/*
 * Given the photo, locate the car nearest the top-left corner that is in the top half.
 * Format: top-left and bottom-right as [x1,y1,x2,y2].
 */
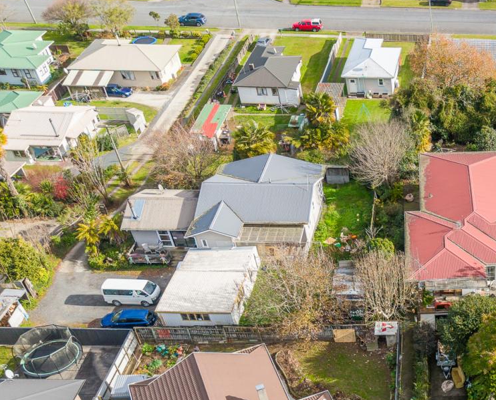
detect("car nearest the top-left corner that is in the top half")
[100,84,136,100]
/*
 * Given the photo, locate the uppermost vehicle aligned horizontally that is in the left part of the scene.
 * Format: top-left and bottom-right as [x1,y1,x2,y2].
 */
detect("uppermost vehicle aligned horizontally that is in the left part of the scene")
[179,14,208,28]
